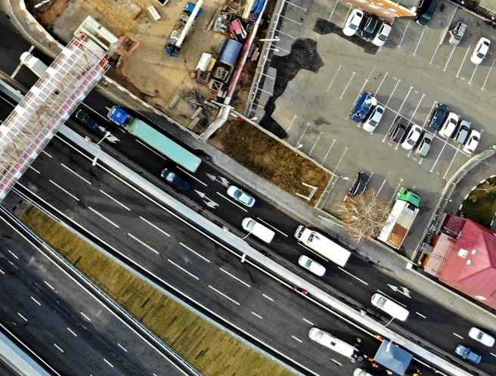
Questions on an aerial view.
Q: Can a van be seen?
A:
Yes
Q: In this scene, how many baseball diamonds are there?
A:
0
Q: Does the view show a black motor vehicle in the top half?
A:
Yes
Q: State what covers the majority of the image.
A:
paved ground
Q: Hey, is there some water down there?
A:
No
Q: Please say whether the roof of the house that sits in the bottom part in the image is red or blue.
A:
red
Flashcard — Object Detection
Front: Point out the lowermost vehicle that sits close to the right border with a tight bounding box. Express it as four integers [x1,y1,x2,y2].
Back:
[452,343,484,365]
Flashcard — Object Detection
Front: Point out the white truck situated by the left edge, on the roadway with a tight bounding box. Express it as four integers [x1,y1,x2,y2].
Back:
[17,48,51,78]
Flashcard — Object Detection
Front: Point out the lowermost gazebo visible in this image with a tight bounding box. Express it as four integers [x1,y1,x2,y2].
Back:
[367,345,412,376]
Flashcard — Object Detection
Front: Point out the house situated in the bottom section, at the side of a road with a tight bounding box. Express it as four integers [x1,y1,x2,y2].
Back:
[411,212,496,310]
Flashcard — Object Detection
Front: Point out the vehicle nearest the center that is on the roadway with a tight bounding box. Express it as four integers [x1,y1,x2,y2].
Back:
[226,183,257,209]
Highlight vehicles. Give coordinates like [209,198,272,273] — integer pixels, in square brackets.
[426,103,449,131]
[306,325,364,368]
[345,170,372,200]
[357,14,379,41]
[237,215,279,246]
[452,343,484,365]
[341,7,365,38]
[296,254,327,279]
[74,110,102,132]
[465,326,496,349]
[102,104,207,174]
[459,129,483,156]
[413,0,440,27]
[350,365,376,376]
[226,183,257,209]
[17,48,51,78]
[361,104,386,134]
[445,19,469,47]
[386,116,410,145]
[412,131,433,160]
[437,111,459,140]
[370,20,392,48]
[366,291,415,326]
[468,37,492,66]
[287,222,358,272]
[350,91,376,123]
[399,124,423,153]
[449,118,472,147]
[159,167,194,195]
